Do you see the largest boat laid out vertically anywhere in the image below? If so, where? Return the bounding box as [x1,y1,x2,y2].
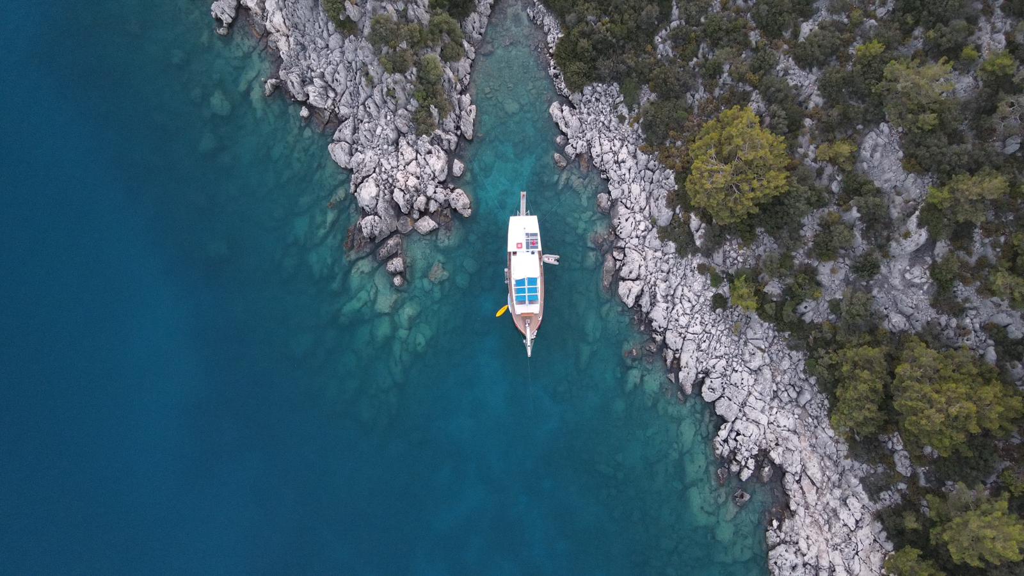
[505,191,544,358]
